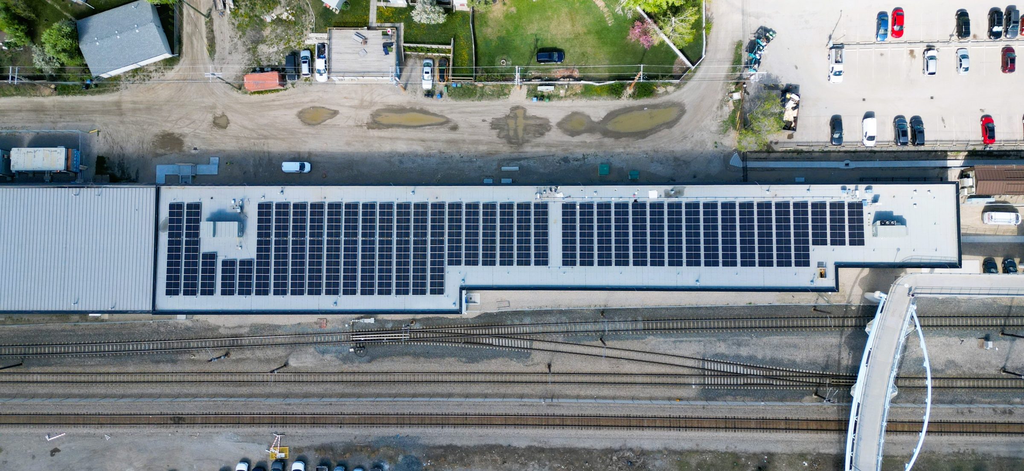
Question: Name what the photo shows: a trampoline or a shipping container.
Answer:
shipping container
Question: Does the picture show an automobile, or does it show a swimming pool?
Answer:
automobile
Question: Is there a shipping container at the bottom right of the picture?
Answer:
No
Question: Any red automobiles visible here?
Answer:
Yes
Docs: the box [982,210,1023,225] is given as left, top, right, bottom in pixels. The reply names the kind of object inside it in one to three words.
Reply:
vehicle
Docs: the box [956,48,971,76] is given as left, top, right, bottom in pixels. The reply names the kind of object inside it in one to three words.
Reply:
car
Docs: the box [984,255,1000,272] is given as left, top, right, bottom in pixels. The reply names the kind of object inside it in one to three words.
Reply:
car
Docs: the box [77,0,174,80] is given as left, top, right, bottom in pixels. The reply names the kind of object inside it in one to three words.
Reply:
house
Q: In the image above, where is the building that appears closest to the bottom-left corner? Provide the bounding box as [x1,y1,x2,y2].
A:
[0,183,157,314]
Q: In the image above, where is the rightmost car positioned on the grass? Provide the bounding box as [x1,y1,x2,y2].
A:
[537,50,565,64]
